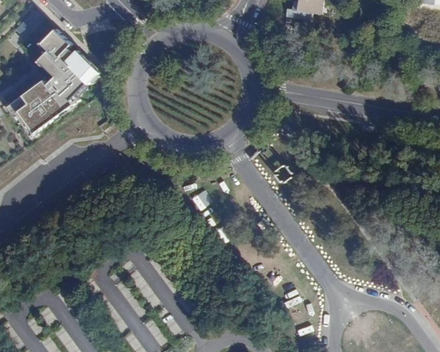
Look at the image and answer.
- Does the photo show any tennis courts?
No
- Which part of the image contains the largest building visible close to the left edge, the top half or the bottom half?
top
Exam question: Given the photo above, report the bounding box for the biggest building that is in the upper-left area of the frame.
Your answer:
[14,28,104,136]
